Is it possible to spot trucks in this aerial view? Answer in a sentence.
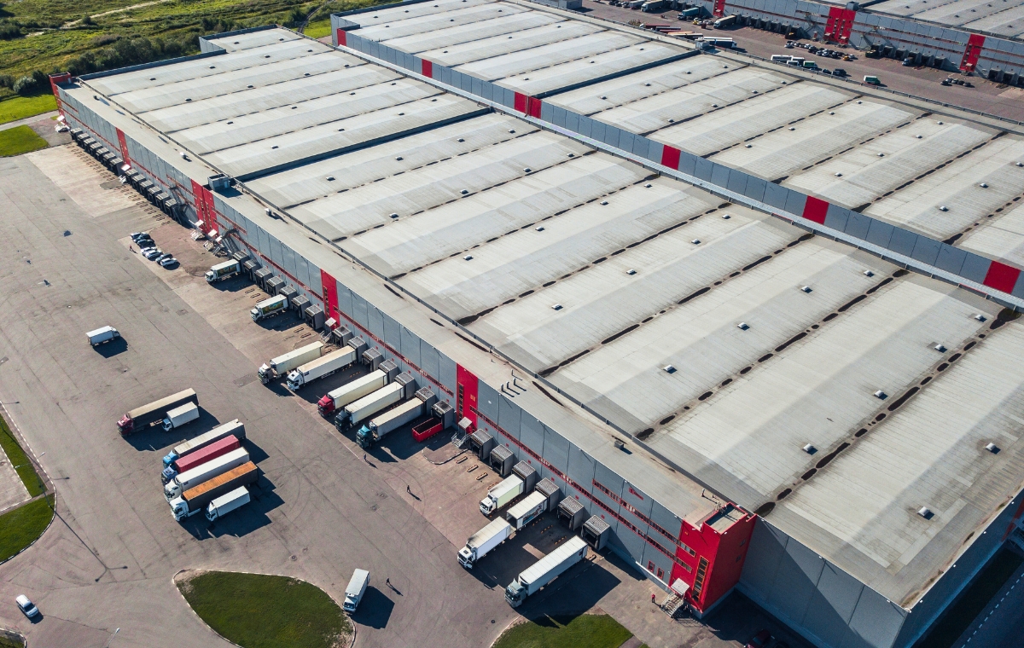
Yes, you can see a truck in this photo.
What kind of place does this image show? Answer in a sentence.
This image shows an industrial area.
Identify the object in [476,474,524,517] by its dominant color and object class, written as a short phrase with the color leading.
white truck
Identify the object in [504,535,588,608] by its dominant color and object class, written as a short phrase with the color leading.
white truck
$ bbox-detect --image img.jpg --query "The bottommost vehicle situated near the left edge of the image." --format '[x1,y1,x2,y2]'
[14,590,33,618]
